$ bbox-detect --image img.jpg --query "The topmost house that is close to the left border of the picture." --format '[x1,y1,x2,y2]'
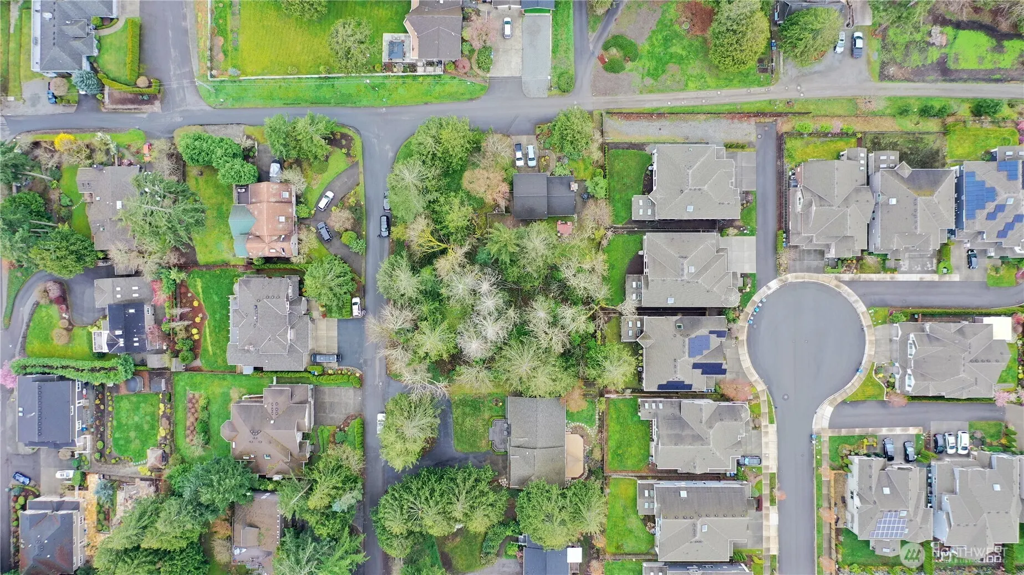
[31,0,125,76]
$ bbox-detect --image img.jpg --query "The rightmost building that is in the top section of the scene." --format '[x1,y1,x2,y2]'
[949,146,1024,258]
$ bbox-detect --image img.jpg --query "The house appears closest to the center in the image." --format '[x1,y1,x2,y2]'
[513,173,575,220]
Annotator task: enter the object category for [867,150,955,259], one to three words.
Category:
house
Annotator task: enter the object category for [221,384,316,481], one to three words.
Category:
house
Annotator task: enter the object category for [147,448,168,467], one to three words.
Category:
gazebo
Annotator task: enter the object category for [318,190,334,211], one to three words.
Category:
car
